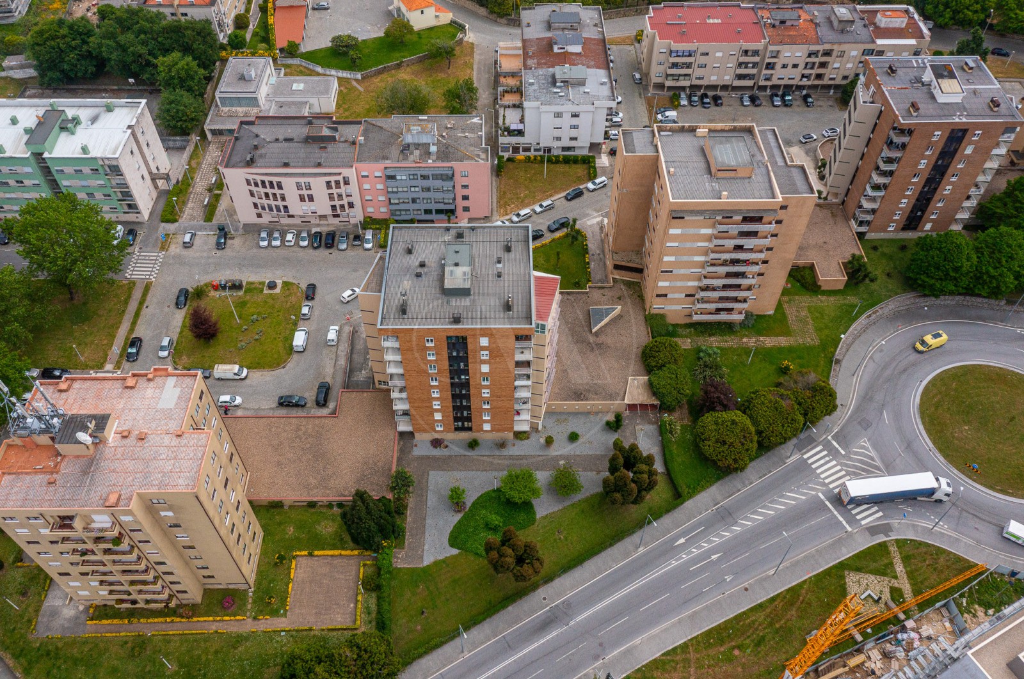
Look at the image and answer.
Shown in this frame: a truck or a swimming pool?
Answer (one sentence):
The one in the frame is a truck.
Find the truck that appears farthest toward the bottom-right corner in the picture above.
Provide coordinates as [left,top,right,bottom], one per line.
[1001,517,1024,552]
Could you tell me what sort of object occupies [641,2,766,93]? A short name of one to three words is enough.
building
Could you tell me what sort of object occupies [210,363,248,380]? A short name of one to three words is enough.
vehicle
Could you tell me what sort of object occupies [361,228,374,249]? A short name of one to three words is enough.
vehicle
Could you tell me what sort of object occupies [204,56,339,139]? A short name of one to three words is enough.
building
